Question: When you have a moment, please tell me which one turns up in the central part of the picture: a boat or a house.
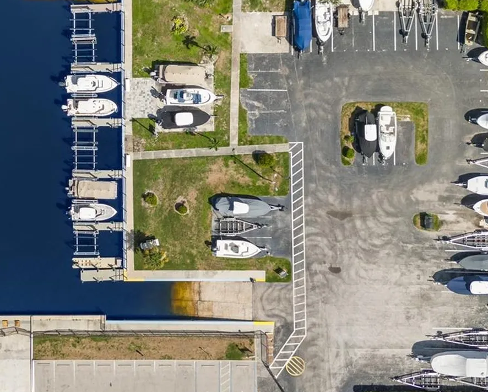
boat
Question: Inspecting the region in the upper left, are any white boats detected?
Yes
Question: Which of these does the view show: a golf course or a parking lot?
parking lot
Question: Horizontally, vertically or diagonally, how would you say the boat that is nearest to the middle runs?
horizontally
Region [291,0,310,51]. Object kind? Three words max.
boat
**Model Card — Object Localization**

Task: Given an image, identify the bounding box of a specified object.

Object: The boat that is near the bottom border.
[429,351,488,375]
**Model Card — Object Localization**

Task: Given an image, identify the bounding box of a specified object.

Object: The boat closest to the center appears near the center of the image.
[209,195,271,216]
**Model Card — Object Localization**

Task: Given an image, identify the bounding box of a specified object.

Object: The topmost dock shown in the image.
[70,2,121,14]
